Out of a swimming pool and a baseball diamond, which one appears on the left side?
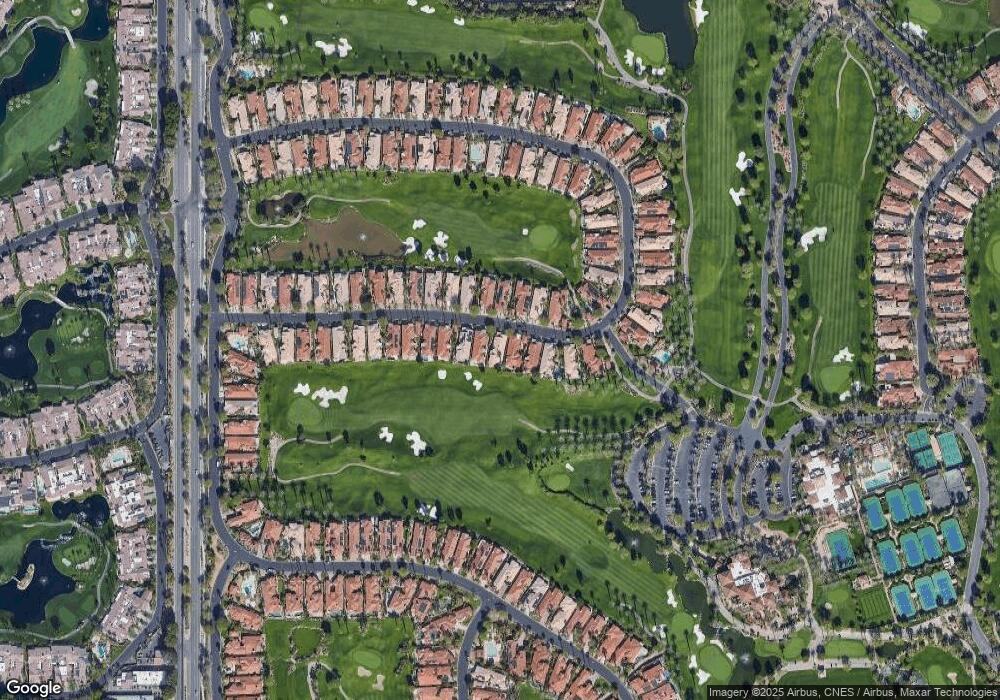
swimming pool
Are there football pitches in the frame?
No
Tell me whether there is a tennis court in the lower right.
Yes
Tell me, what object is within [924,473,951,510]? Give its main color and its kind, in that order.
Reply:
gray tennis court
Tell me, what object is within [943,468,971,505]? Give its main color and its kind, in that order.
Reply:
gray tennis court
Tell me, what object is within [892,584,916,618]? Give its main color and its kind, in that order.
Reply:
blue tennis court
